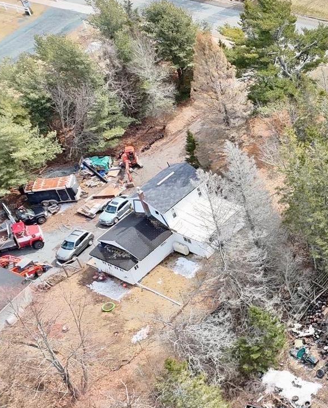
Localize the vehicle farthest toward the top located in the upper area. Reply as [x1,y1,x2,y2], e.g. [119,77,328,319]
[118,139,140,182]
